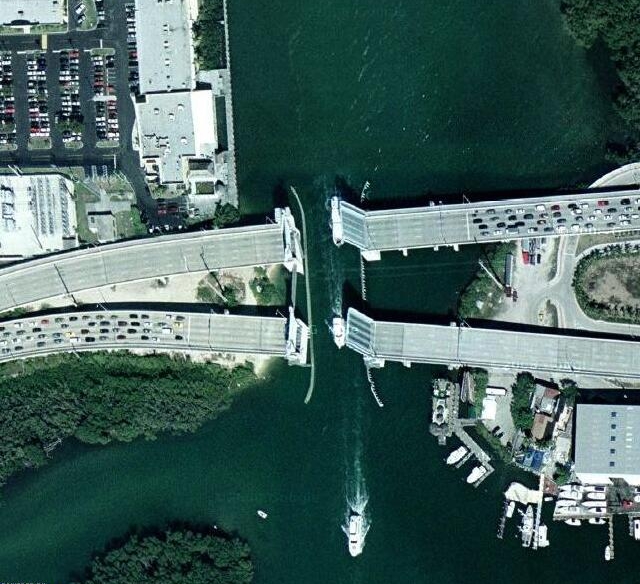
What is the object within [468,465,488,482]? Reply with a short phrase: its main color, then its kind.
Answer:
white boat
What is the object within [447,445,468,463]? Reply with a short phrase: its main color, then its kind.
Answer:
white boat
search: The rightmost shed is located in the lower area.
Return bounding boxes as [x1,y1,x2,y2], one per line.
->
[574,405,640,481]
